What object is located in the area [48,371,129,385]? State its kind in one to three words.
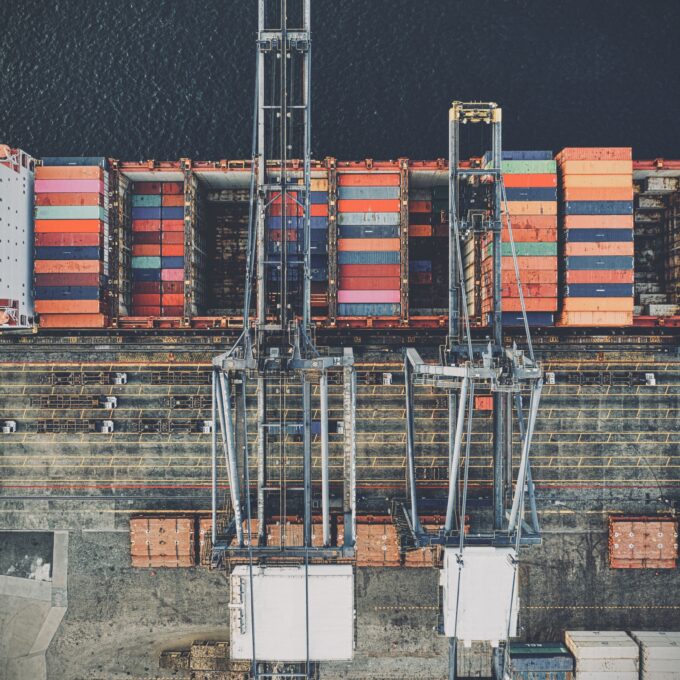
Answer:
vehicle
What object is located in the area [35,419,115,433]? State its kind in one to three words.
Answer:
vehicle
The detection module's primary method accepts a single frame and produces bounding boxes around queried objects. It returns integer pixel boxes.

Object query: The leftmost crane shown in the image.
[193,0,367,680]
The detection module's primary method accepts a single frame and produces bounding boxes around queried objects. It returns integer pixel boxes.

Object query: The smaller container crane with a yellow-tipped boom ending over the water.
[386,96,545,680]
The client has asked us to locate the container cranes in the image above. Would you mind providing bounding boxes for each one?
[386,96,545,680]
[193,0,367,680]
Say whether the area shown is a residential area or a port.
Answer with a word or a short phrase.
port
